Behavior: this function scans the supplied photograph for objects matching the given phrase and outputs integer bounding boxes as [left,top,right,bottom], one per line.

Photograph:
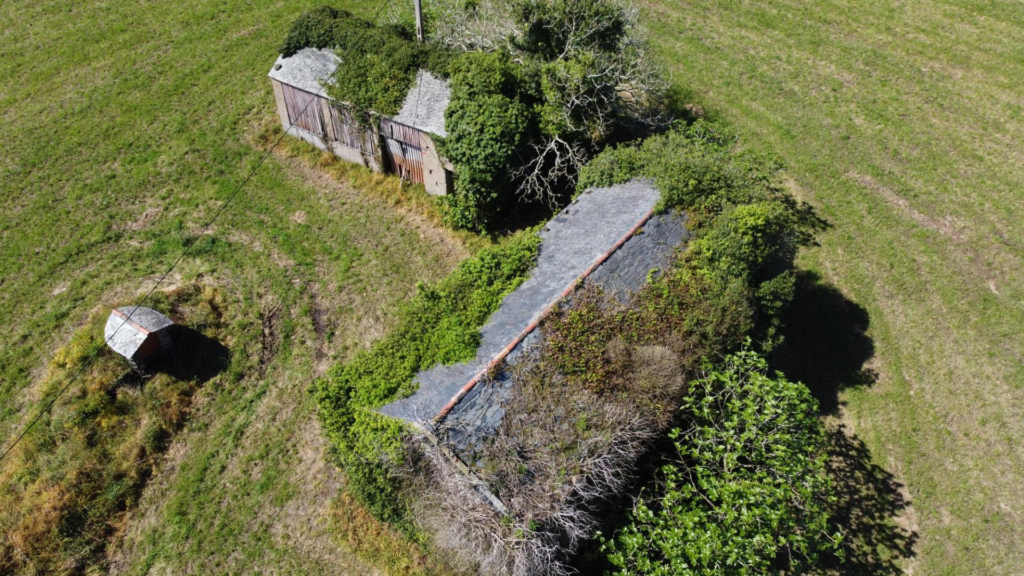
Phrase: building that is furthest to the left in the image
[103,309,189,385]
